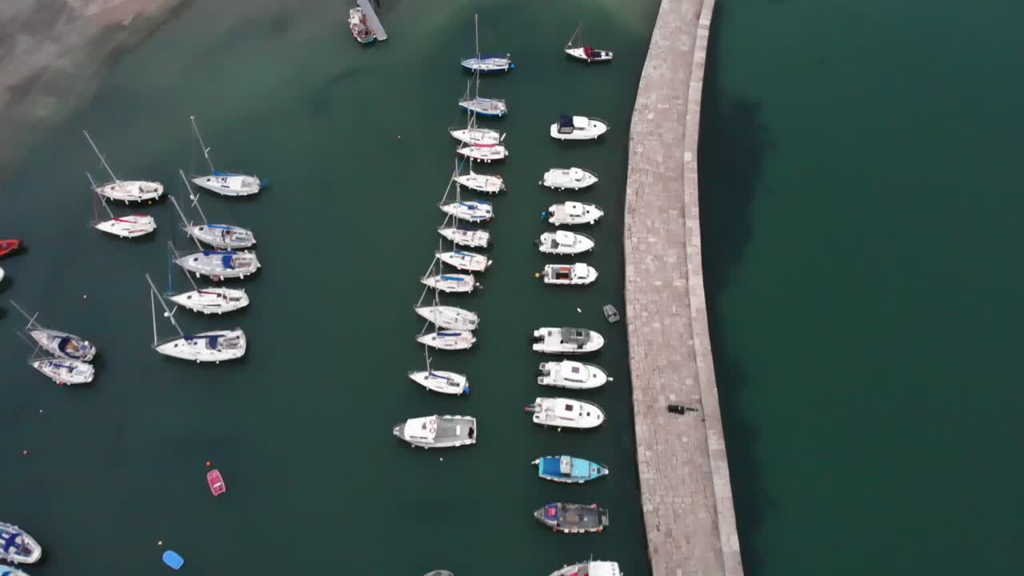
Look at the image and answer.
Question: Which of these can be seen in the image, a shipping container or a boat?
boat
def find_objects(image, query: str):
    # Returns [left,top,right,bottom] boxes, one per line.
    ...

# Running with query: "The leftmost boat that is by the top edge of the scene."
[349,4,373,45]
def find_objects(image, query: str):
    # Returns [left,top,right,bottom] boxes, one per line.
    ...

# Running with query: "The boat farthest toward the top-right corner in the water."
[565,21,613,63]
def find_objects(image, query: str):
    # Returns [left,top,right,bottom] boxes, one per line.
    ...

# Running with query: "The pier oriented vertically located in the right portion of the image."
[617,0,744,576]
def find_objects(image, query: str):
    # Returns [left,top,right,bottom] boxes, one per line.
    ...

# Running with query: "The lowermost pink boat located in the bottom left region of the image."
[207,468,228,498]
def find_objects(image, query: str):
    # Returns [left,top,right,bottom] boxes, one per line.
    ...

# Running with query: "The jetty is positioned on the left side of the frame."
[357,0,389,42]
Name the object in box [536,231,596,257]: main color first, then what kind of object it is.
white boat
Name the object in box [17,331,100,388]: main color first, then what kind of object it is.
white boat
